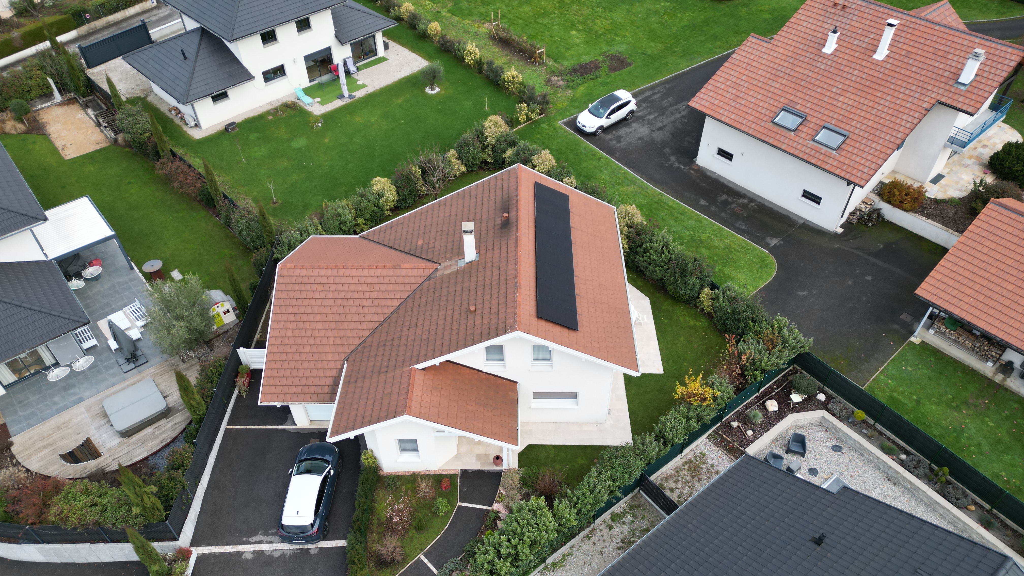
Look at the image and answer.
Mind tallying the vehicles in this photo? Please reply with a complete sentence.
The photo contains 2 vehicles.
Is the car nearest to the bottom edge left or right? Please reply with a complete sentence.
The car nearest to the bottom edge sits on the left side.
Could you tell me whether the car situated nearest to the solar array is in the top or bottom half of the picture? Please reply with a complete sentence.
Seen from above, the car situated nearest to the solar array lies in the top half of the view.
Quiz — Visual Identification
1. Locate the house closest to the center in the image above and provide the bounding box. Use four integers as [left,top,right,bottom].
[257,163,645,470]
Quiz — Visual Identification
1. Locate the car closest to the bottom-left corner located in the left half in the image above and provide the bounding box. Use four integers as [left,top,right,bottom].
[274,442,342,546]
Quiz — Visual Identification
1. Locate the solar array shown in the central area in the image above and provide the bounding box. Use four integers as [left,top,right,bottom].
[534,181,580,331]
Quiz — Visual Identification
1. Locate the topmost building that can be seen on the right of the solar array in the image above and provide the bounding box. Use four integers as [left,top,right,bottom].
[686,0,1024,237]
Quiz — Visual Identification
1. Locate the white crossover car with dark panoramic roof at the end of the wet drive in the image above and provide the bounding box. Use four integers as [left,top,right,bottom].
[575,90,638,136]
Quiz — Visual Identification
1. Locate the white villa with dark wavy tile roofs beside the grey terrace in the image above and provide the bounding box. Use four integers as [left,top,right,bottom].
[0,135,102,390]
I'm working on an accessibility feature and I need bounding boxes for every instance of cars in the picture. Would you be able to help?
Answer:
[575,90,638,136]
[274,442,342,546]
